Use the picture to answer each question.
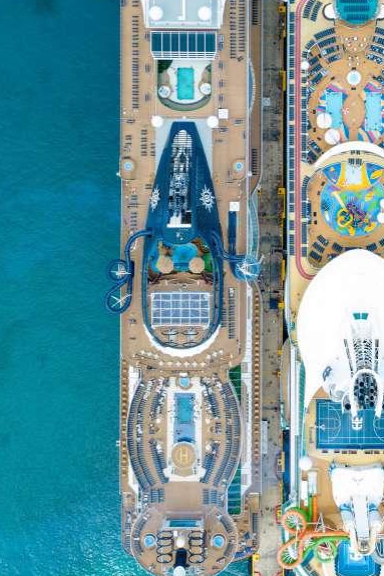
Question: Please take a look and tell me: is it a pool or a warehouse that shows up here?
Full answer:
I can see a pool in this picture.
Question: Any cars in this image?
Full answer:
No, I find no car anywhere in the image.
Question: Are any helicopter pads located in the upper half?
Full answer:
No, I can find no helicopter pad in the upper half.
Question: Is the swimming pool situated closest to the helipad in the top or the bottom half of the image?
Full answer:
It is in the bottom half that the swimming pool situated closest to the helipad appears.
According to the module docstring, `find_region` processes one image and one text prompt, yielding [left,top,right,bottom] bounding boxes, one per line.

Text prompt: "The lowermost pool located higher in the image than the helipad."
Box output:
[173,391,194,444]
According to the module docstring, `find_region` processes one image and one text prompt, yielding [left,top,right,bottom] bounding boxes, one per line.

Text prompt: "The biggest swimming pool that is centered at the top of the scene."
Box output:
[176,66,194,100]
